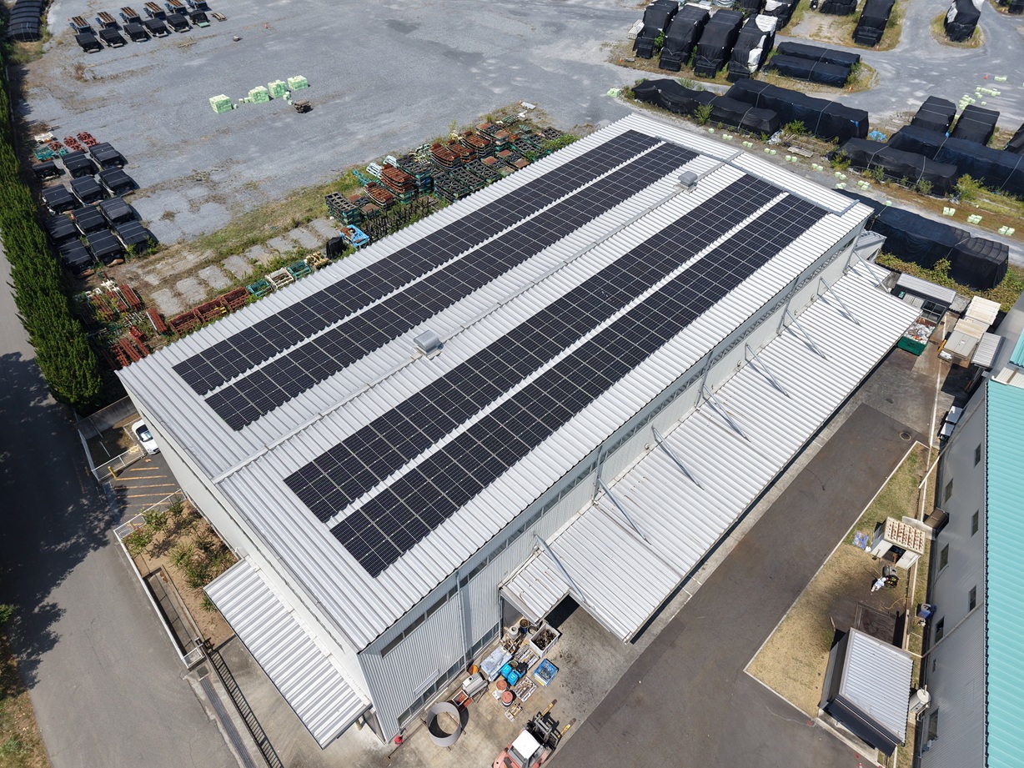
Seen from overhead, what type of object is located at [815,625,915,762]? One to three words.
shed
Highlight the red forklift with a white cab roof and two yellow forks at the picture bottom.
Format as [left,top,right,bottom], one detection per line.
[493,700,576,768]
